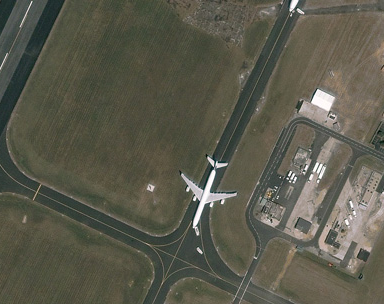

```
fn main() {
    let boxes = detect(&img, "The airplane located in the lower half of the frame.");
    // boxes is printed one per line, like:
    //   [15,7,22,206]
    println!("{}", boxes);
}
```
[179,161,237,227]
